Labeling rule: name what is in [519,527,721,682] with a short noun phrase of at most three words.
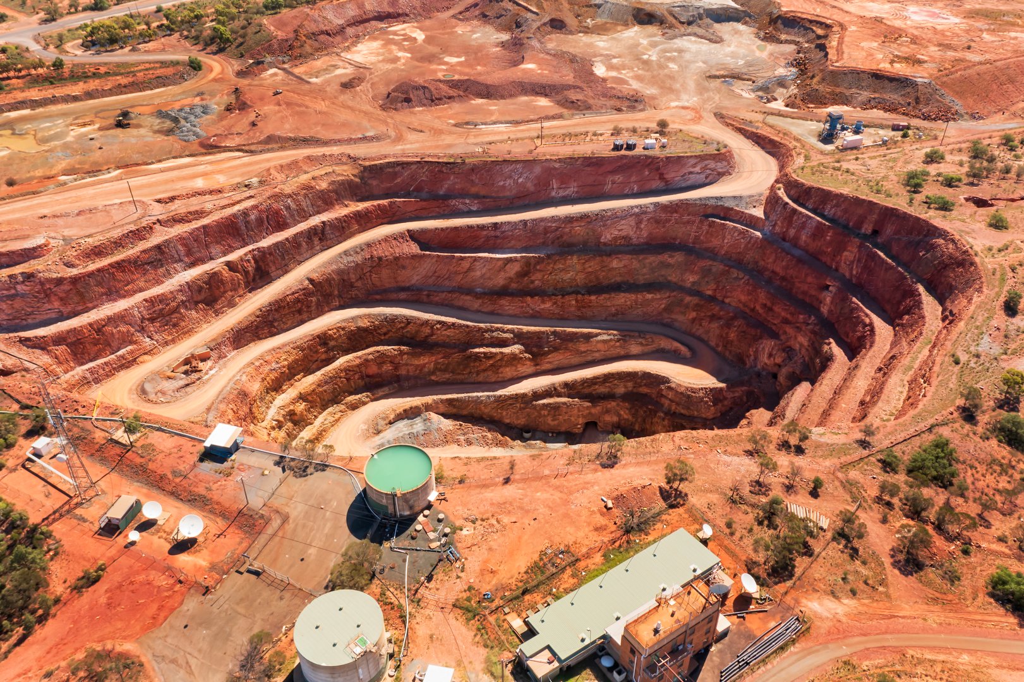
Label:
building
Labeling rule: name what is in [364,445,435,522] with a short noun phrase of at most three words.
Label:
water tank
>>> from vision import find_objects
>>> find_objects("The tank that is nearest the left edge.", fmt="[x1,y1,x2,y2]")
[294,591,392,682]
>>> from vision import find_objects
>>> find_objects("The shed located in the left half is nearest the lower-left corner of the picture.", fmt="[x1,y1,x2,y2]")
[106,495,139,529]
